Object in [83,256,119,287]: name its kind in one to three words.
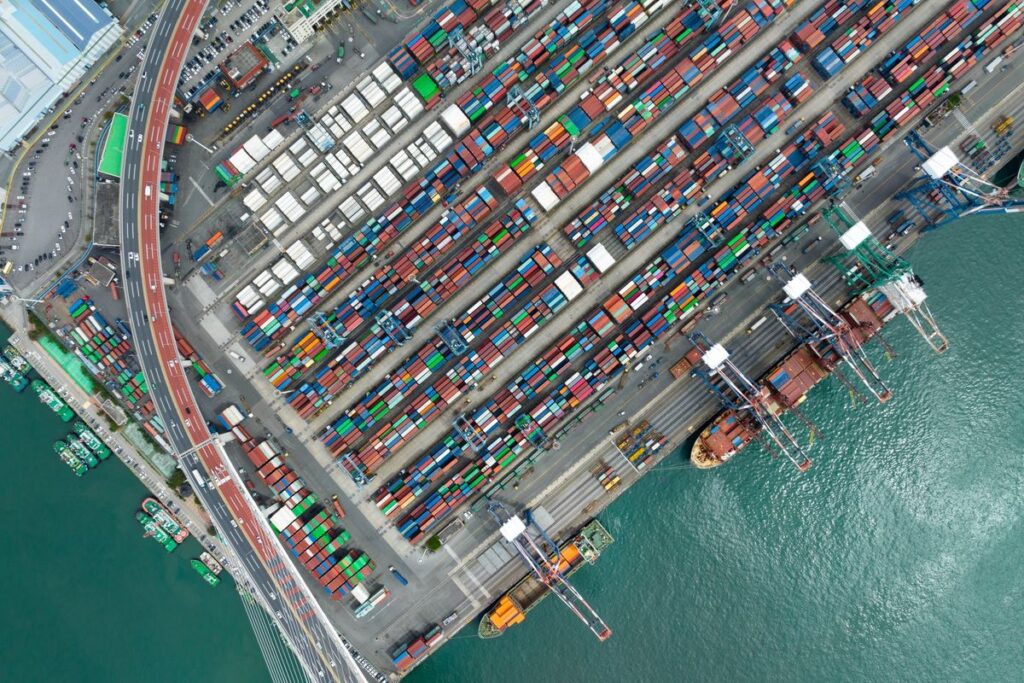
building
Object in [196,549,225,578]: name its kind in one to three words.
ship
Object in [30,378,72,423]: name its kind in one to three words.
boat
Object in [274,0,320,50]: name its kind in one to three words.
building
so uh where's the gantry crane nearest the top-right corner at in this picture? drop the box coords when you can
[890,138,1024,233]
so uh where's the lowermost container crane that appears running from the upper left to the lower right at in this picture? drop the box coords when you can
[485,499,609,642]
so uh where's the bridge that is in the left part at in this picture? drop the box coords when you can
[120,0,372,683]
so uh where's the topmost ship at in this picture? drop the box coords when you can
[1000,156,1024,196]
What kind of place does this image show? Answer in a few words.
port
